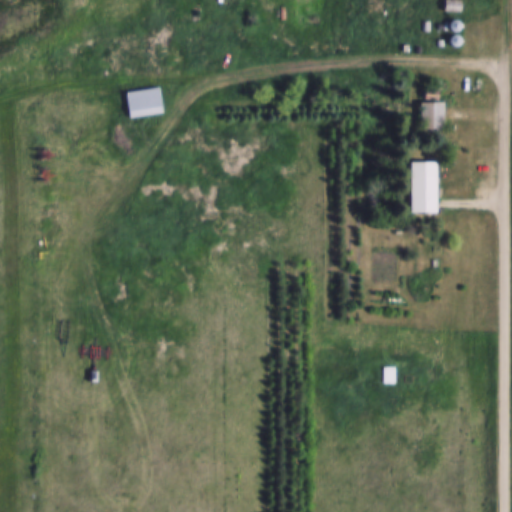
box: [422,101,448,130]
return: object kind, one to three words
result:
house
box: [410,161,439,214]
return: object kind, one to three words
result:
barn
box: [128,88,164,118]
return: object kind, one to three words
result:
shed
